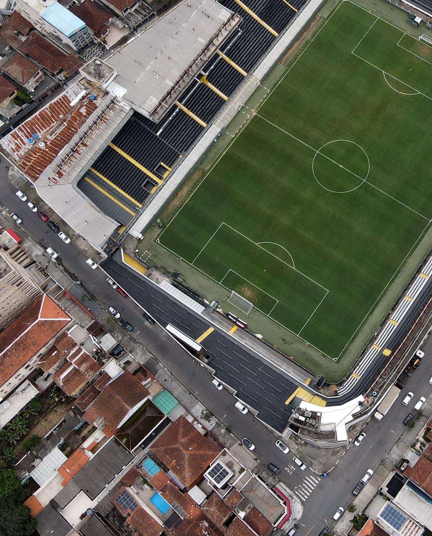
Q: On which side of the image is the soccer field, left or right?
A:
right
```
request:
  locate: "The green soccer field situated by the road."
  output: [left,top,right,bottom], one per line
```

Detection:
[137,0,432,381]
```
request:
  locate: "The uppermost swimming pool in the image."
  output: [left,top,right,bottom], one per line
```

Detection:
[141,458,163,478]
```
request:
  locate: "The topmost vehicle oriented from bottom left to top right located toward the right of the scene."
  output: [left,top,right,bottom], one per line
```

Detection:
[401,348,426,382]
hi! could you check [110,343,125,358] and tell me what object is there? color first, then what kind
black car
